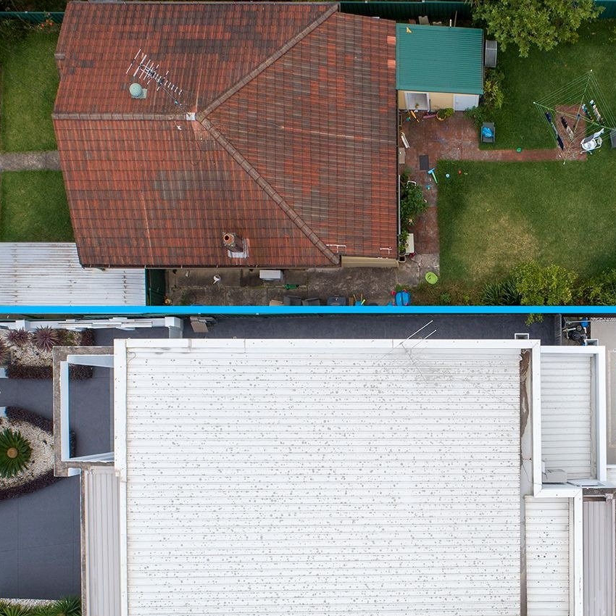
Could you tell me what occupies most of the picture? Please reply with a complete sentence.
The largest share of the image is taken up by buildings.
